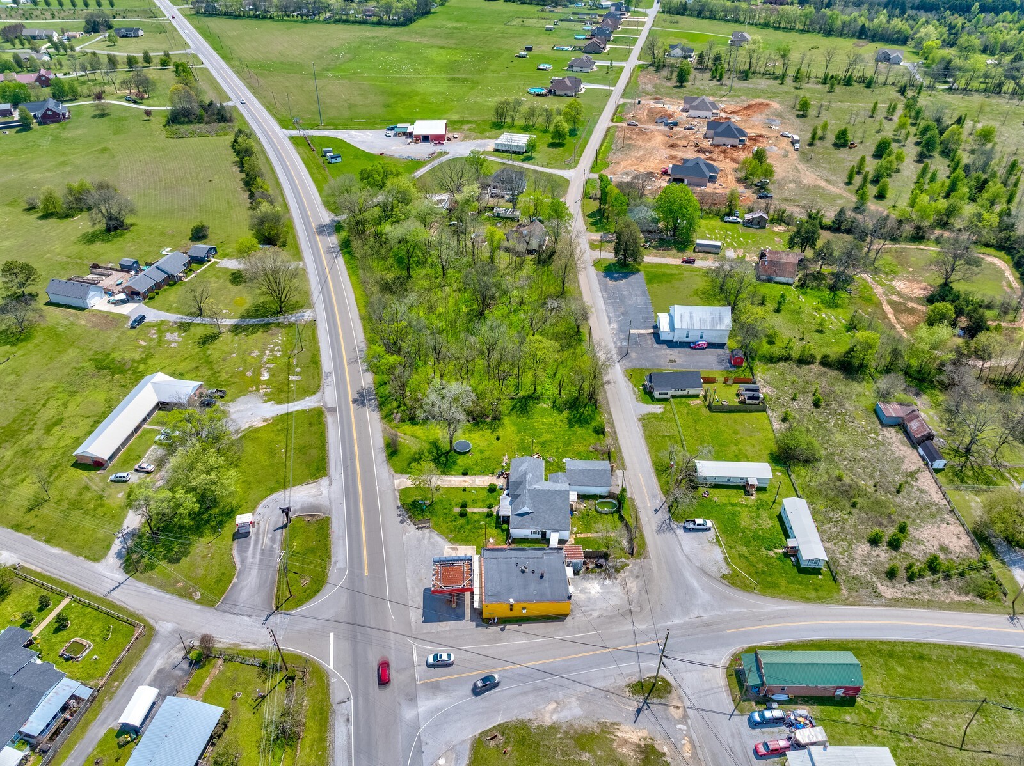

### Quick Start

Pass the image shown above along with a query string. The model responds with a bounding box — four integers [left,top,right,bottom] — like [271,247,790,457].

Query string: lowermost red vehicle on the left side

[376,657,389,686]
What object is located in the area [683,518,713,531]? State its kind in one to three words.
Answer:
vehicle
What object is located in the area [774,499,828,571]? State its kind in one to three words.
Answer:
house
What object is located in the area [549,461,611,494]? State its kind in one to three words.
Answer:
building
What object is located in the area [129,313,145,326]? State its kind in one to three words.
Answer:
vehicle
